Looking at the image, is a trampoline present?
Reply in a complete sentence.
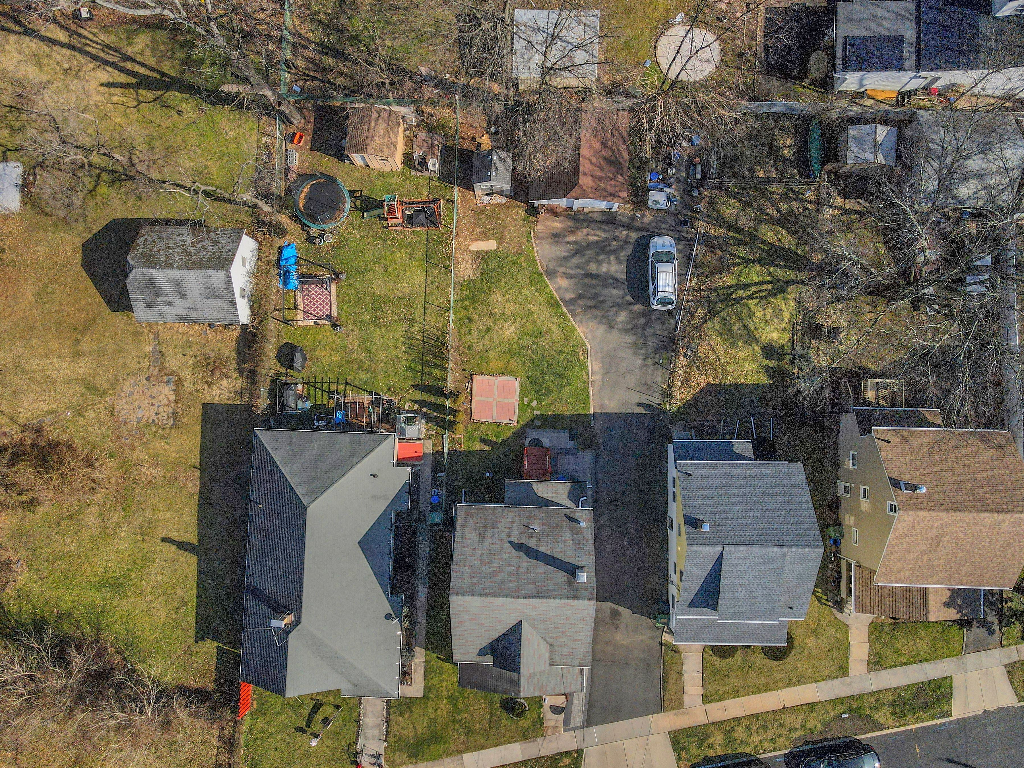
Yes, a trampoline can be made out from above.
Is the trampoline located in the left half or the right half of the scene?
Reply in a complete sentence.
The trampoline sits on the left side.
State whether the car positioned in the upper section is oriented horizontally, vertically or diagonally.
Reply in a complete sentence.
The car positioned in the upper section has been laid out vertically relative to the frame.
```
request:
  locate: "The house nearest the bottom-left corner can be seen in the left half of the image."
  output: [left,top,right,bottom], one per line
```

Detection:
[239,428,414,700]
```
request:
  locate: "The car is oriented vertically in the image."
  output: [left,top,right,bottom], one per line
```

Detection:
[650,235,679,308]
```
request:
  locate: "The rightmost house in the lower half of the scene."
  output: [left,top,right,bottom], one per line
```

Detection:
[835,407,1024,621]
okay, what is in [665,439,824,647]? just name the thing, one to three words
house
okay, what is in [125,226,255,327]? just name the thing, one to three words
building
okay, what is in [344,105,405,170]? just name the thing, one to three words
shed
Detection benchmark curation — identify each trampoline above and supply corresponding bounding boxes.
[293,175,351,236]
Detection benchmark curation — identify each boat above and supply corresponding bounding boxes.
[810,118,824,179]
